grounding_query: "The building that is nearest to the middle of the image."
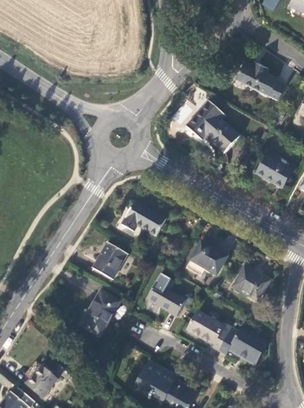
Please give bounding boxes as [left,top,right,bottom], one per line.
[117,200,166,239]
